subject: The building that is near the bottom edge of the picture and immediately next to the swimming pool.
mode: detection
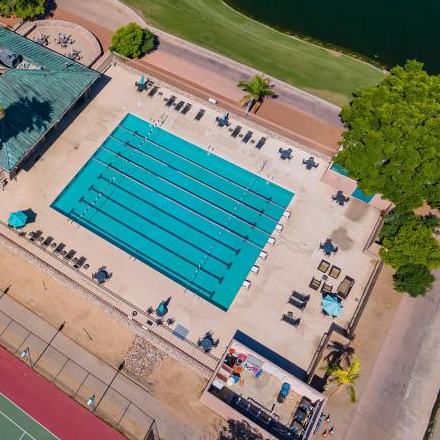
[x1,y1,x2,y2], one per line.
[201,341,327,440]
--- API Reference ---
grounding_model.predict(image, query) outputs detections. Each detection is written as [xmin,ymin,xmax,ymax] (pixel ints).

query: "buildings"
[201,341,327,440]
[0,26,100,182]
